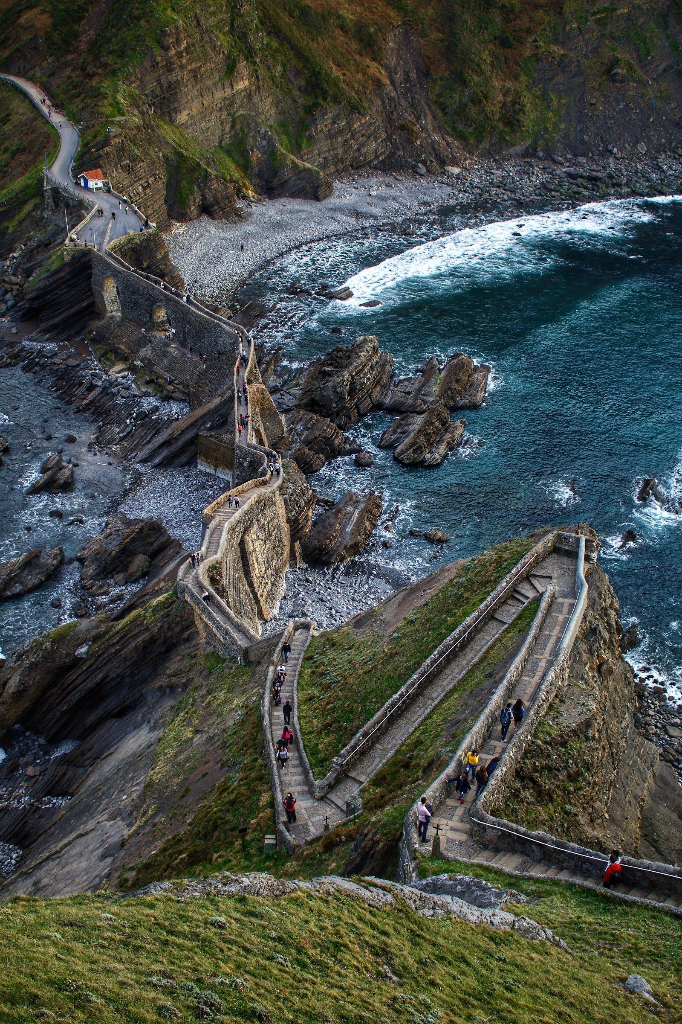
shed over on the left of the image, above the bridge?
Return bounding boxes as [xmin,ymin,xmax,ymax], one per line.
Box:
[72,171,105,193]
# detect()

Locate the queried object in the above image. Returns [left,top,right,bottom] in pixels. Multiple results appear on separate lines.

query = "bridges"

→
[92,249,294,458]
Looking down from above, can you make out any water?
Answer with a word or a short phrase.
Yes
